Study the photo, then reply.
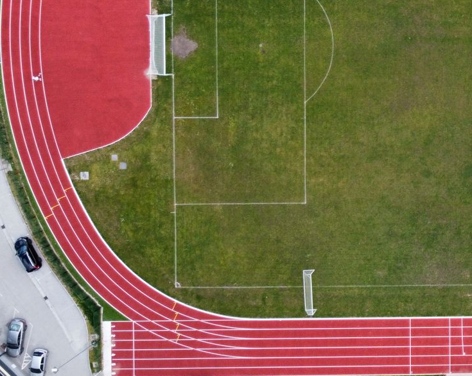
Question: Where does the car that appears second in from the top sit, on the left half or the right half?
left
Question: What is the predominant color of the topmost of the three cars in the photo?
black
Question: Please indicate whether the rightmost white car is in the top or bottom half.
bottom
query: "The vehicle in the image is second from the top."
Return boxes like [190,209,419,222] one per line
[4,318,27,357]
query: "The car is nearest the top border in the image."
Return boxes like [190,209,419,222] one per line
[14,236,40,273]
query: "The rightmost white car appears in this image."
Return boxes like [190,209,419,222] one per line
[27,348,48,376]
